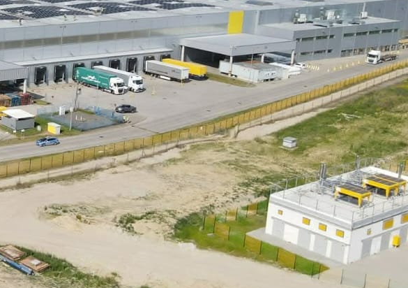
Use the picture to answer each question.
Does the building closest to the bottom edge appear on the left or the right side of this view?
right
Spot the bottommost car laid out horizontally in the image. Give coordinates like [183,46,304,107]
[36,134,61,146]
